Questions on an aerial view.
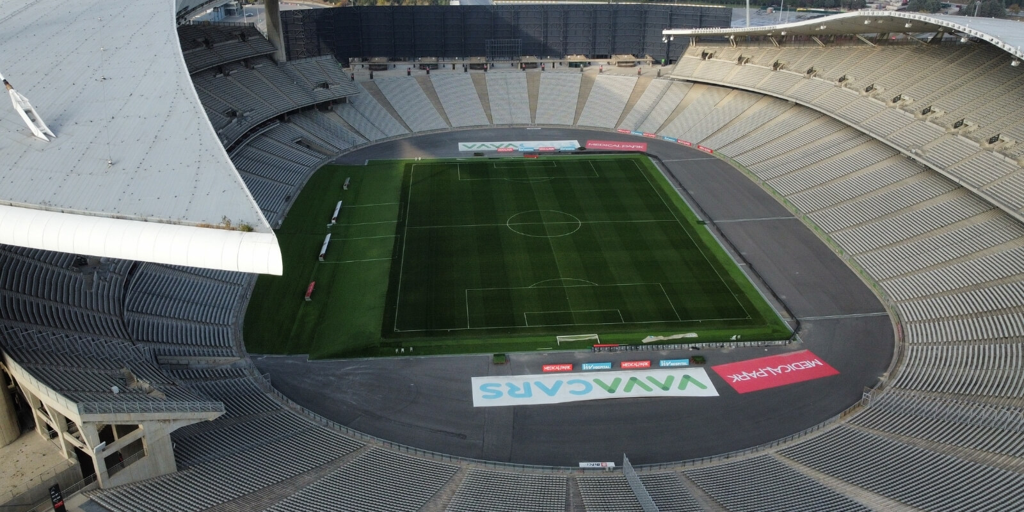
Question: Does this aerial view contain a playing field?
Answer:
Yes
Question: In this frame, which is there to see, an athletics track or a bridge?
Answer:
athletics track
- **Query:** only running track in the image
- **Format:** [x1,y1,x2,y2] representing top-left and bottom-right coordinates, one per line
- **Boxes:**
[239,127,899,470]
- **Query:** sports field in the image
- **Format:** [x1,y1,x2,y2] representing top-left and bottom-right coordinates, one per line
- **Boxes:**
[381,157,770,339]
